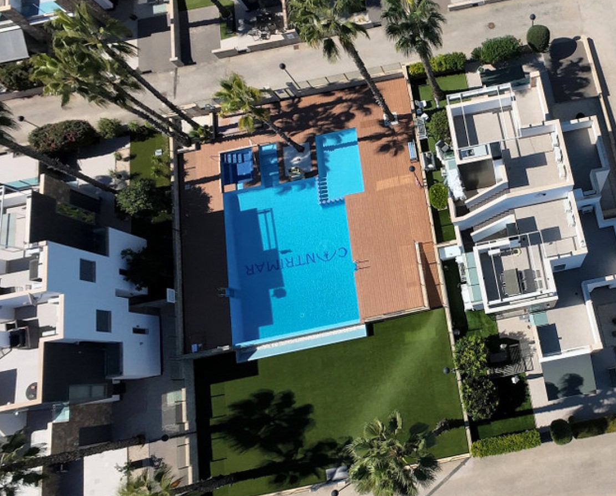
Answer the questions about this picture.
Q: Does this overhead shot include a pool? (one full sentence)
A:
Yes, a pool appears in the view.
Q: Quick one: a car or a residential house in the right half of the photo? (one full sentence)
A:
Visible in the right half of the photo is a residential house.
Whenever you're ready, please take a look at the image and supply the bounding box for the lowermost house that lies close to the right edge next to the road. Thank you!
[439,193,616,401]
